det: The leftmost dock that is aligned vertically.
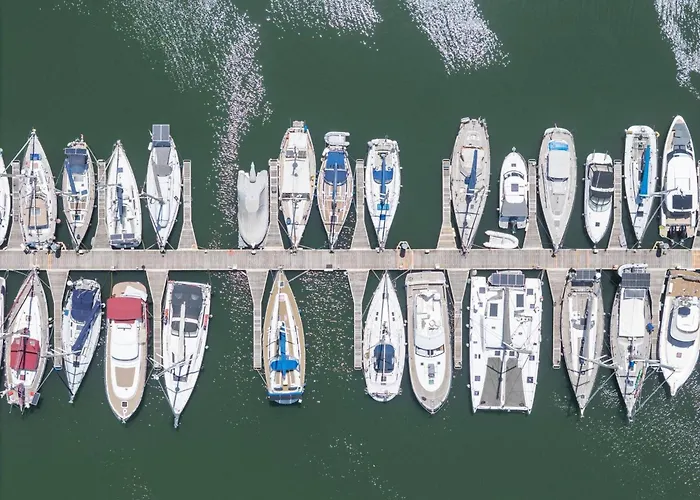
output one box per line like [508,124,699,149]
[6,159,25,249]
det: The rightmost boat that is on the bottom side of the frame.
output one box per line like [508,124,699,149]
[653,269,700,400]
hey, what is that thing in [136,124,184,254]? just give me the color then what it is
white boat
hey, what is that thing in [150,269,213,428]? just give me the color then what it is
white boat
